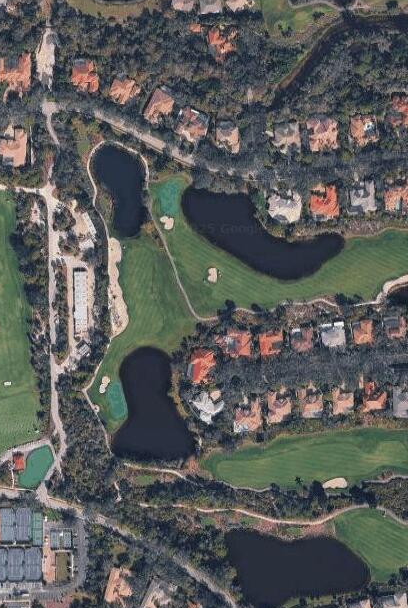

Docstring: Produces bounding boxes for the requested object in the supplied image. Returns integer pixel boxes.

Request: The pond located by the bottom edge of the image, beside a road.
[224,530,370,608]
